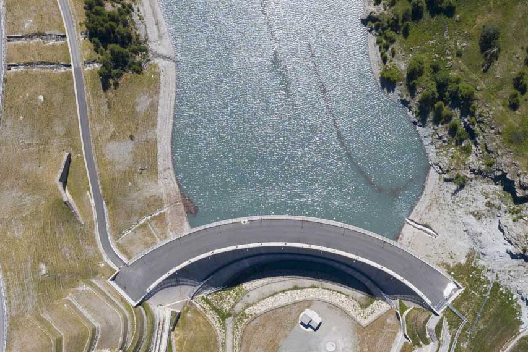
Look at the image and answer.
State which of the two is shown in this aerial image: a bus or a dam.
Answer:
dam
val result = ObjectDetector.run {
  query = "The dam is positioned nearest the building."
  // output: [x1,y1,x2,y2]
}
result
[107,208,465,316]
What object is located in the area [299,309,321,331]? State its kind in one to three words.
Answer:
building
